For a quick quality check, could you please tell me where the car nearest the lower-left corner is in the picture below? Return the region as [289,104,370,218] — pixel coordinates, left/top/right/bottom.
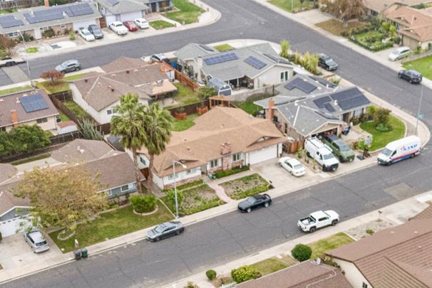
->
[23,230,51,253]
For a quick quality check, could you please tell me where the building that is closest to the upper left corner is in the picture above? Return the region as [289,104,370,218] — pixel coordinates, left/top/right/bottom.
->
[0,0,104,46]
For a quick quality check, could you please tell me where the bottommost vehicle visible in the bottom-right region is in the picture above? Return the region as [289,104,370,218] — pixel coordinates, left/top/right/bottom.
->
[298,210,338,233]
